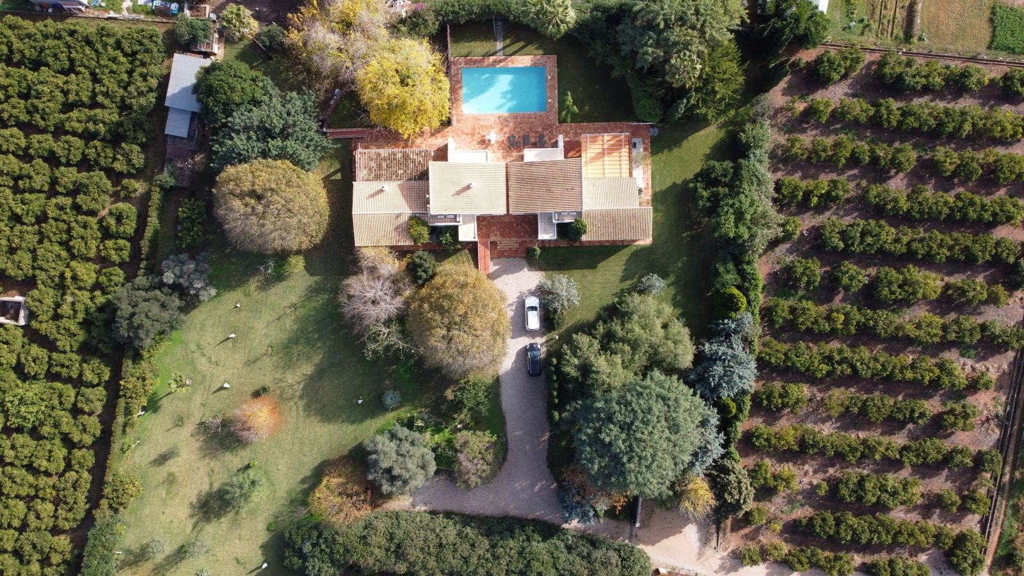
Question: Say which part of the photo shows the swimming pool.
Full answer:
The swimming pool is located in the top region of the scene.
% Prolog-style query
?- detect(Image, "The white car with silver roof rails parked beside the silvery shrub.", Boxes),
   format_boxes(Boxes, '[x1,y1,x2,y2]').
[524,296,541,331]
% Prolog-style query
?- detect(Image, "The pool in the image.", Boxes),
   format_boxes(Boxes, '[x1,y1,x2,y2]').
[460,63,550,116]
